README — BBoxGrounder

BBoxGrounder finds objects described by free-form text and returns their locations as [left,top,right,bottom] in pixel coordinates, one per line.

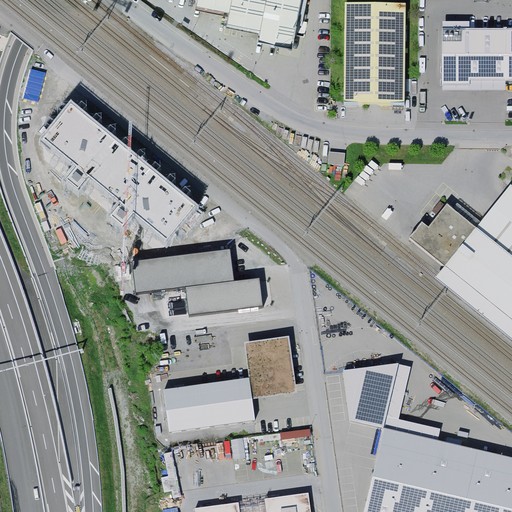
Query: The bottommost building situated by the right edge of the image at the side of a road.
[364,428,512,512]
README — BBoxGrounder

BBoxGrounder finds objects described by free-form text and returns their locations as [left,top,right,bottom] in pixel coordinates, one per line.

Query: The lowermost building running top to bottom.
[162,452,182,498]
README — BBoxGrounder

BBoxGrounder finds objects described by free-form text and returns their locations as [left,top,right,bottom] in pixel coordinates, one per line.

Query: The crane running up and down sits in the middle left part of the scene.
[118,121,132,294]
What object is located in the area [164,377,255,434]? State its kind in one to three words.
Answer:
building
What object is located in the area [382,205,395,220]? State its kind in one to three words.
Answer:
vehicle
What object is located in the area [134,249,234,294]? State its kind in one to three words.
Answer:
building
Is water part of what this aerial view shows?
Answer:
No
